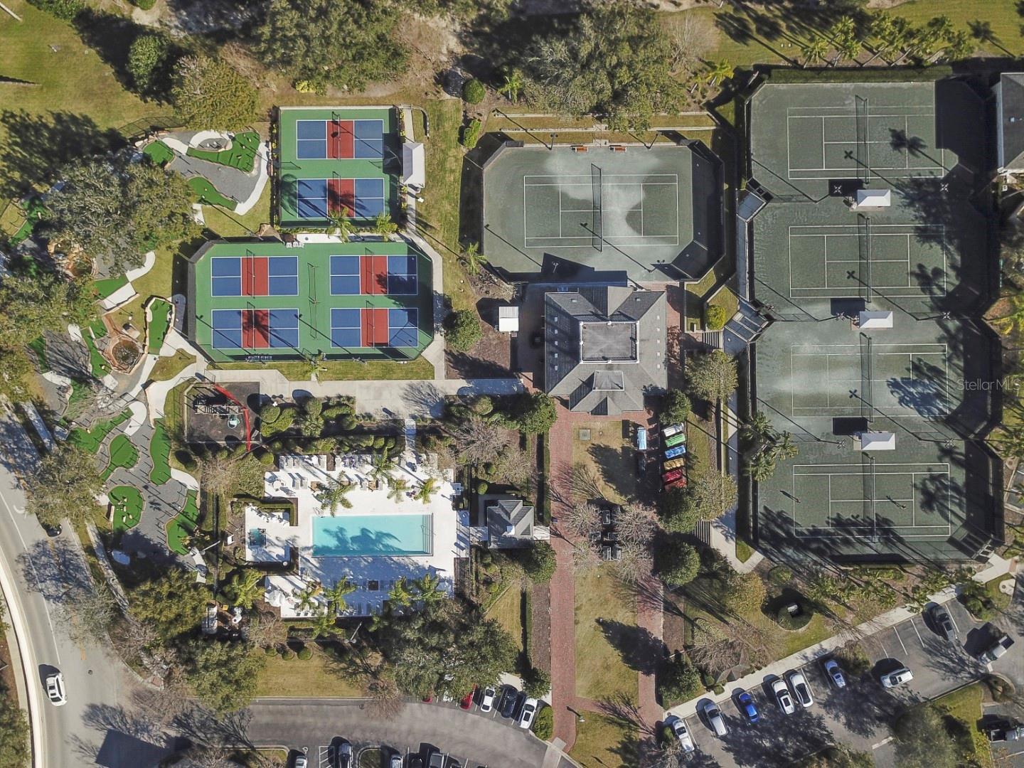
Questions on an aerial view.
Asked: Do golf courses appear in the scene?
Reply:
Yes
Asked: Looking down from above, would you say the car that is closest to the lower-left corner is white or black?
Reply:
white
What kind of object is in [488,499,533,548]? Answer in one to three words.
building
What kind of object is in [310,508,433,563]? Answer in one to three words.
swimming pool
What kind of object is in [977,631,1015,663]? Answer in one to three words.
truck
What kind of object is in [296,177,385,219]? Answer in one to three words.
sports court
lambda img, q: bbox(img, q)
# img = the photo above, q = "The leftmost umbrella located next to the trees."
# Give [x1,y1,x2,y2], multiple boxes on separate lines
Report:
[264,588,285,609]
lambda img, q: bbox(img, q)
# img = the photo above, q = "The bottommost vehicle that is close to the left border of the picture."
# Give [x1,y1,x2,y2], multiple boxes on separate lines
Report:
[47,671,68,704]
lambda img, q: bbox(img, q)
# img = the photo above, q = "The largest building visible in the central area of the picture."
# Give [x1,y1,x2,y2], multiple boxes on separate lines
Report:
[545,287,668,415]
